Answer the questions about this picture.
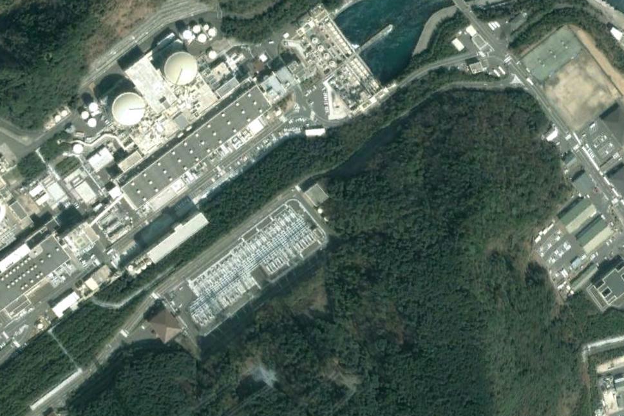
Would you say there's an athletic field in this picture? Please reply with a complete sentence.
Yes, the image includes an athletic field.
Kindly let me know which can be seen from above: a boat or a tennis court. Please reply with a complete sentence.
There is a tennis court in the scene.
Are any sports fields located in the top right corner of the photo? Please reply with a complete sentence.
Yes, looking in the top right corner of the photo, one can make out a sports field.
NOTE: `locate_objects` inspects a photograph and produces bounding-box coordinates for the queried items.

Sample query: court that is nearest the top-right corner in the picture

[552,25,583,58]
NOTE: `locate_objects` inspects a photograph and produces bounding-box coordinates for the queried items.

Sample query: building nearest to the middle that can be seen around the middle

[302,181,330,206]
